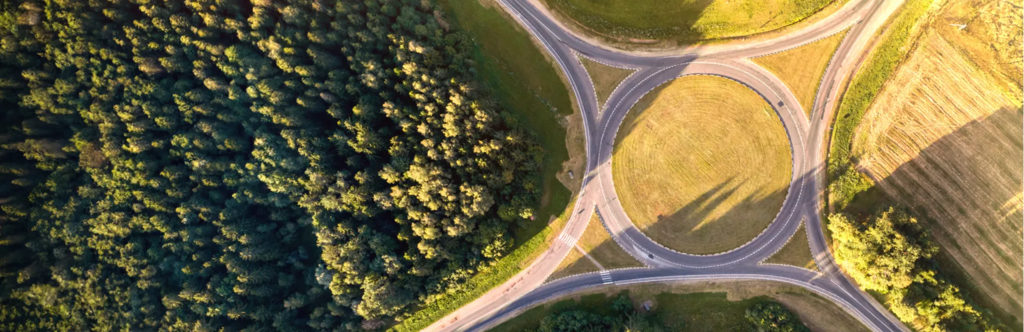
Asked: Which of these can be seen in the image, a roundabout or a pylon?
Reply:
roundabout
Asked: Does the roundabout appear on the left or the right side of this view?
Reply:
right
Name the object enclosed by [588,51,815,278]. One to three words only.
roundabout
